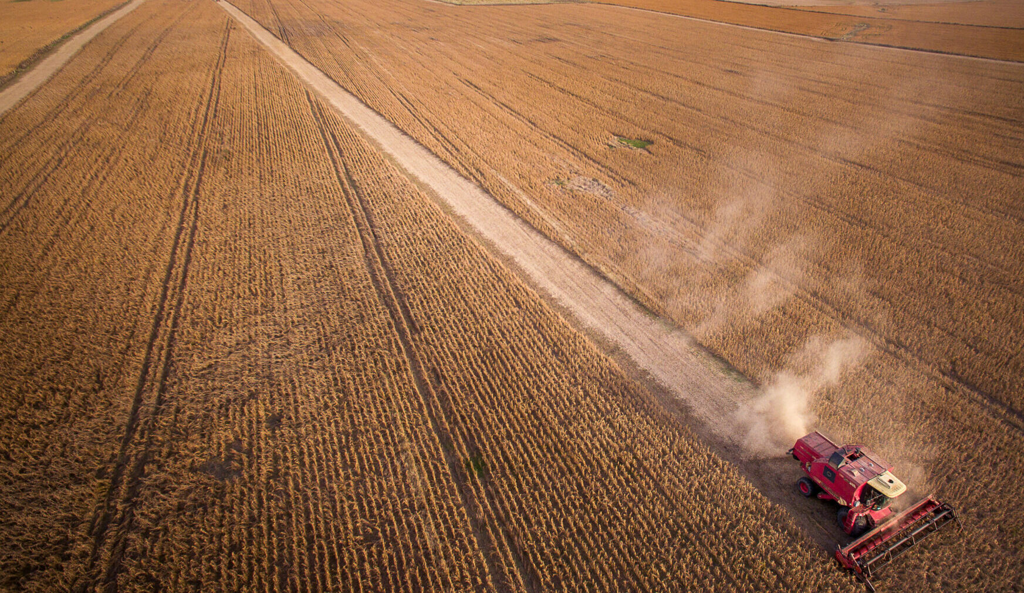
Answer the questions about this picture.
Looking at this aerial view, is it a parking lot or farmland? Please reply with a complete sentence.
What you see here is farmland.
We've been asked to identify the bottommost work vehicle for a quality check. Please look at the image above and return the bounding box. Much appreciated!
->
[784,429,965,593]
